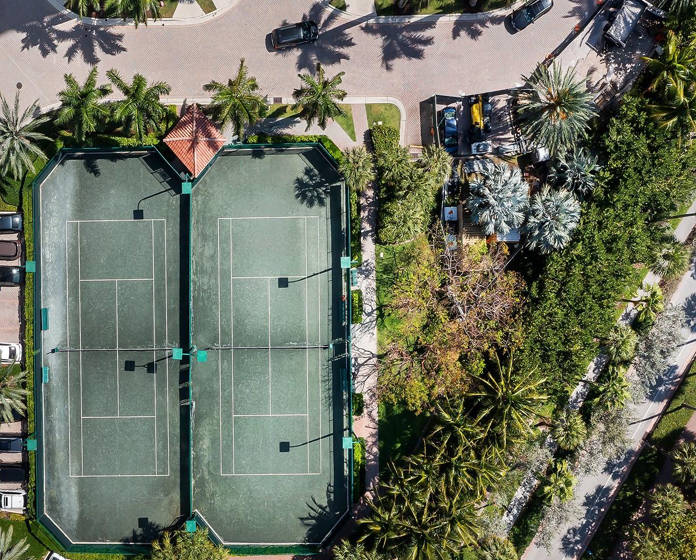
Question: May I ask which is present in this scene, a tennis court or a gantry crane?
tennis court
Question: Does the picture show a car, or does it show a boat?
car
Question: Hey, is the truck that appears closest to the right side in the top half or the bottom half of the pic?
top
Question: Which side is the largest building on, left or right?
left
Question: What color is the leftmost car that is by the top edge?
black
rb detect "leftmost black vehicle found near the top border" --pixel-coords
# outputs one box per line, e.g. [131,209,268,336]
[272,17,321,48]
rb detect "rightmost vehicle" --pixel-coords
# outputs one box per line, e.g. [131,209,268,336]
[599,0,655,54]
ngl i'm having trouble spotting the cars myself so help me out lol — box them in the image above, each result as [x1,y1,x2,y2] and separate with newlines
[272,17,321,48]
[0,342,21,362]
[0,489,26,512]
[0,239,20,259]
[0,433,24,455]
[0,461,25,485]
[442,105,462,153]
[509,0,559,29]
[0,213,22,233]
[0,406,22,426]
[0,266,24,287]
